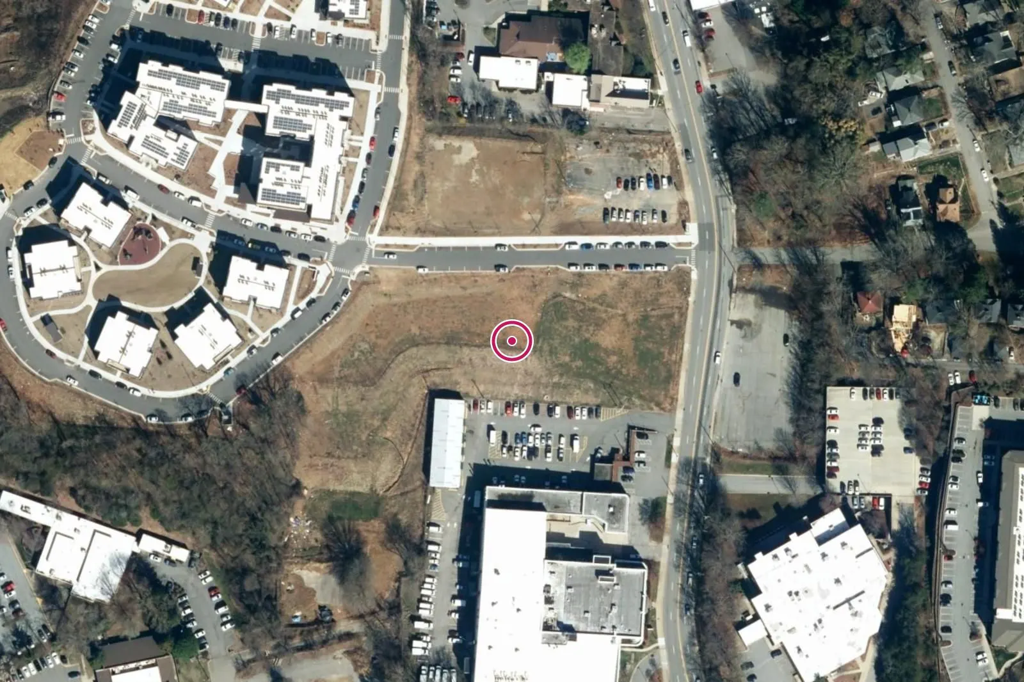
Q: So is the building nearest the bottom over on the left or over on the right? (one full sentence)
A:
The building nearest the bottom is on the left side of the image.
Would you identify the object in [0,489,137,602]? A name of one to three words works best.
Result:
building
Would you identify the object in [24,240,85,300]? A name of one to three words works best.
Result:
house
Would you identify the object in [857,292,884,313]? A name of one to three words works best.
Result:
house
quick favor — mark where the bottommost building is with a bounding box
[95,636,176,682]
